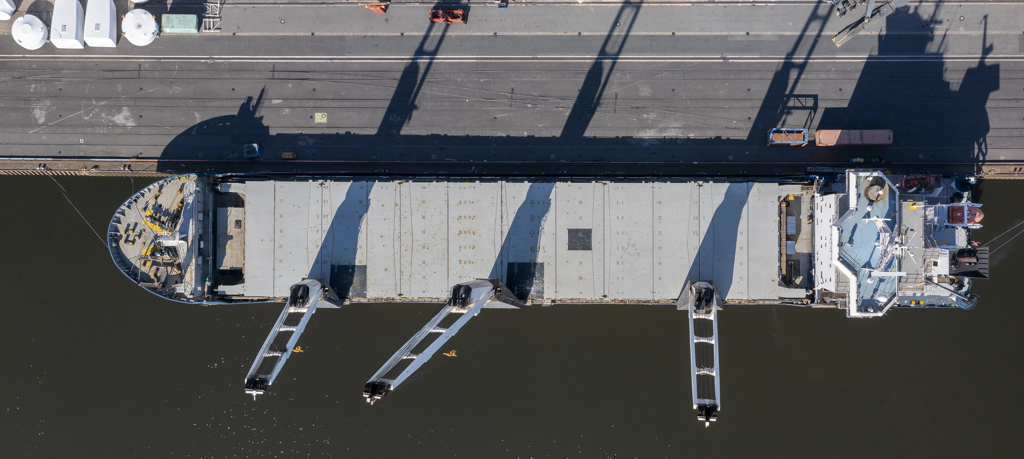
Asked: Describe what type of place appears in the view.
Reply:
port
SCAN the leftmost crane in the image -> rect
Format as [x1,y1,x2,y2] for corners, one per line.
[244,279,342,398]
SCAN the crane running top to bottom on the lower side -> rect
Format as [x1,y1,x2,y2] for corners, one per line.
[677,281,723,428]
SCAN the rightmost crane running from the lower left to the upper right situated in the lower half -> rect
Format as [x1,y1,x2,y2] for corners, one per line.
[363,279,527,406]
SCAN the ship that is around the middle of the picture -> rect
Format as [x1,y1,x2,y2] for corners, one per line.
[108,169,990,318]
